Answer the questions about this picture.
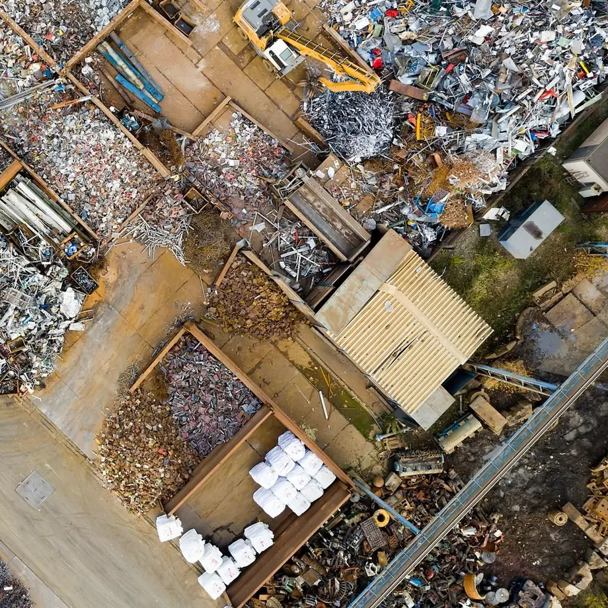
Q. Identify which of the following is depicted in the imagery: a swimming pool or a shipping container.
shipping container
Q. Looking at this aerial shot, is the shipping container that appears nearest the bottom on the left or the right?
right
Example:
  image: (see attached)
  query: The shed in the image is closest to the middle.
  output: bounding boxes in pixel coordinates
[312,228,494,429]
